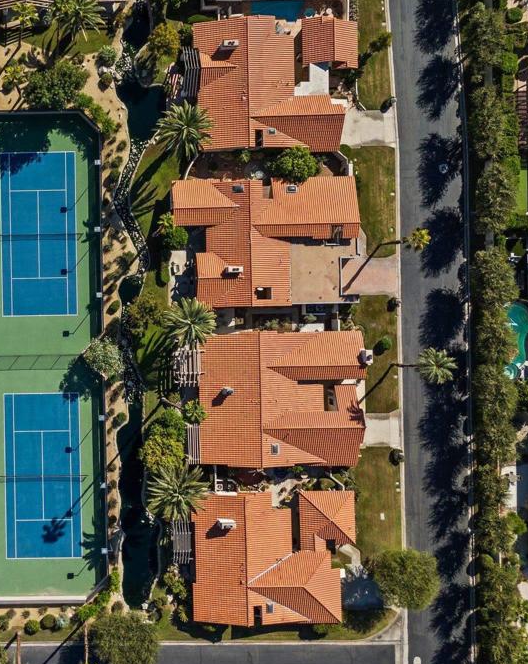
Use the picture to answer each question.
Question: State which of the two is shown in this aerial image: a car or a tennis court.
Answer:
tennis court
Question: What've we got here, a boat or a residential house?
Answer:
residential house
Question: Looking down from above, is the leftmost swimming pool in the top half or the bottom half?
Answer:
top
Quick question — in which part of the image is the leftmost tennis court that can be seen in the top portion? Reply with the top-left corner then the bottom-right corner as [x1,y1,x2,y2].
[0,151,83,317]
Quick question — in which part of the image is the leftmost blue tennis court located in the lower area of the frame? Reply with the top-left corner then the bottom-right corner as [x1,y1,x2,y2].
[0,393,87,559]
